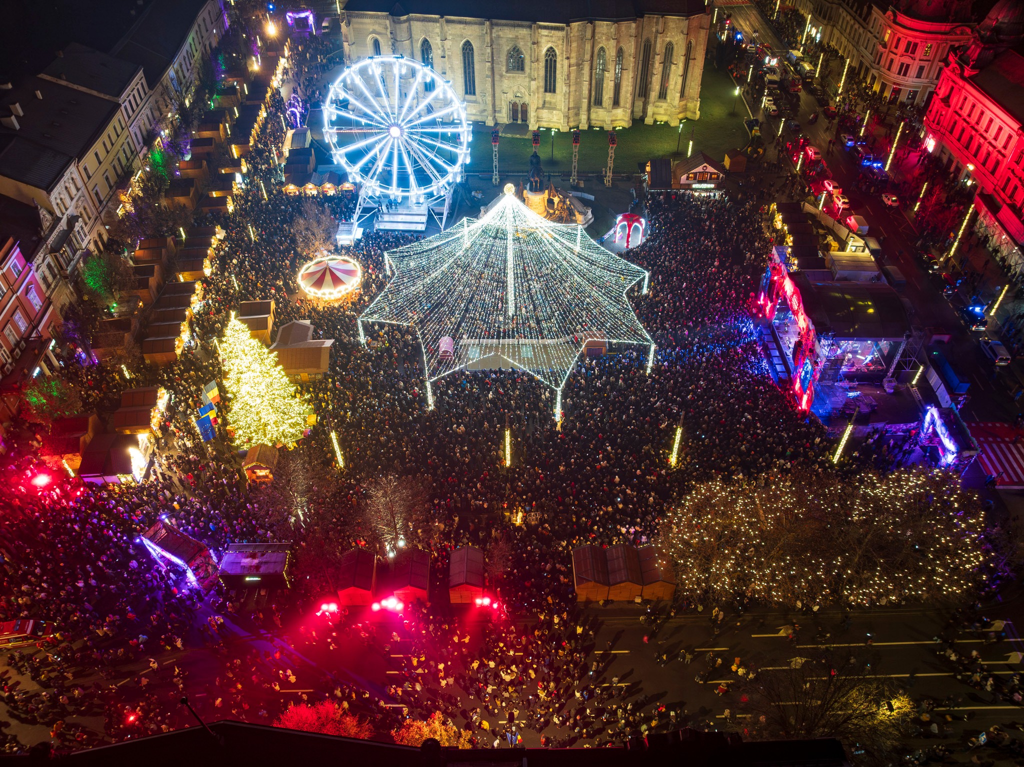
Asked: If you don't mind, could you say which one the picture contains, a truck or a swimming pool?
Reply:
truck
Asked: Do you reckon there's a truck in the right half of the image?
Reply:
Yes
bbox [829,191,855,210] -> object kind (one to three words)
car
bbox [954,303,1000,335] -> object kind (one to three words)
van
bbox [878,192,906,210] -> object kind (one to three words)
car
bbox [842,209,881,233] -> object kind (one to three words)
truck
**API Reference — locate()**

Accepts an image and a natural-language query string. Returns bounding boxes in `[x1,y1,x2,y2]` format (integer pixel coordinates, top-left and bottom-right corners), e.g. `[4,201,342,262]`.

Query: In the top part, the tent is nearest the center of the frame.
[615,219,646,252]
